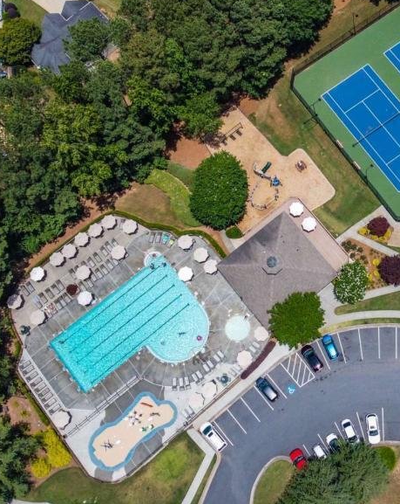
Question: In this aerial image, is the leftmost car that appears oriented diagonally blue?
No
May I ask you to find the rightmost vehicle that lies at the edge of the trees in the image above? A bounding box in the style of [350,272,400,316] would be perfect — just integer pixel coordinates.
[366,412,381,444]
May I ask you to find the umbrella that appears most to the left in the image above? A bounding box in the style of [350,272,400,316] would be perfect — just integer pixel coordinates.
[7,293,24,310]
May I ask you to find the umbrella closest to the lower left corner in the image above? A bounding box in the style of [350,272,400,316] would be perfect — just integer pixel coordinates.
[53,409,70,427]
